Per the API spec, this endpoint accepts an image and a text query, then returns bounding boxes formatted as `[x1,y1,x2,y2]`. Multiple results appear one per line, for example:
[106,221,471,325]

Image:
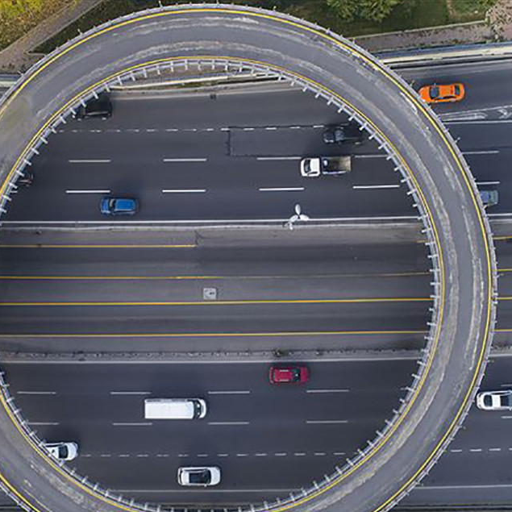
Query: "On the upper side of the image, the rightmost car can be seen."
[481,187,499,207]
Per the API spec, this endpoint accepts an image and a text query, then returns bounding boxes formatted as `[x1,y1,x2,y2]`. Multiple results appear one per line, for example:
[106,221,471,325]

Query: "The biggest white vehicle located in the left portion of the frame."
[144,397,207,421]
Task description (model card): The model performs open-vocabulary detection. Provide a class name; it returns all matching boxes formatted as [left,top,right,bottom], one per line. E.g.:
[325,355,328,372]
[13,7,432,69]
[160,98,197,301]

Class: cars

[73,98,112,118]
[475,388,512,411]
[177,465,220,489]
[418,83,465,105]
[481,187,499,207]
[269,363,308,385]
[46,440,79,461]
[100,196,138,218]
[323,122,366,146]
[13,166,33,186]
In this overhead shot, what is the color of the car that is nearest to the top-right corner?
orange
